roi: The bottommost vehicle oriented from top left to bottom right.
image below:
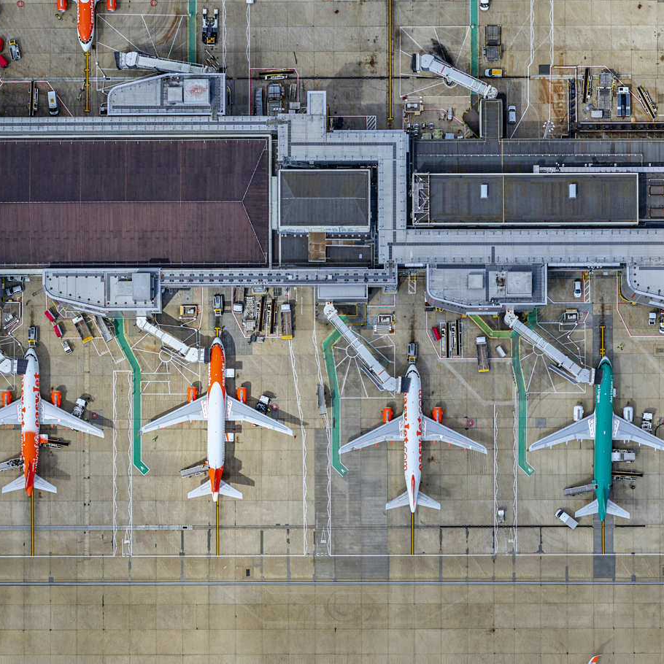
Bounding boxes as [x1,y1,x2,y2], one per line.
[555,508,578,531]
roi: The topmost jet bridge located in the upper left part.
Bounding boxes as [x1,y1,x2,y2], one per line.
[107,49,219,74]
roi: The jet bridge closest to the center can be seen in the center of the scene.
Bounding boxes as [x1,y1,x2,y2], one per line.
[321,301,416,394]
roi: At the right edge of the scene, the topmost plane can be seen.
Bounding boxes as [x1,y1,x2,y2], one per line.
[529,357,664,522]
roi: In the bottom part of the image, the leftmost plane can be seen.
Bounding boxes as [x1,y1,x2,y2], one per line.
[0,348,105,497]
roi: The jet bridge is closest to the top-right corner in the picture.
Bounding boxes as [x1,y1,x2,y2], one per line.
[404,53,498,99]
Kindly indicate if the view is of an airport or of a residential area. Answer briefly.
airport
